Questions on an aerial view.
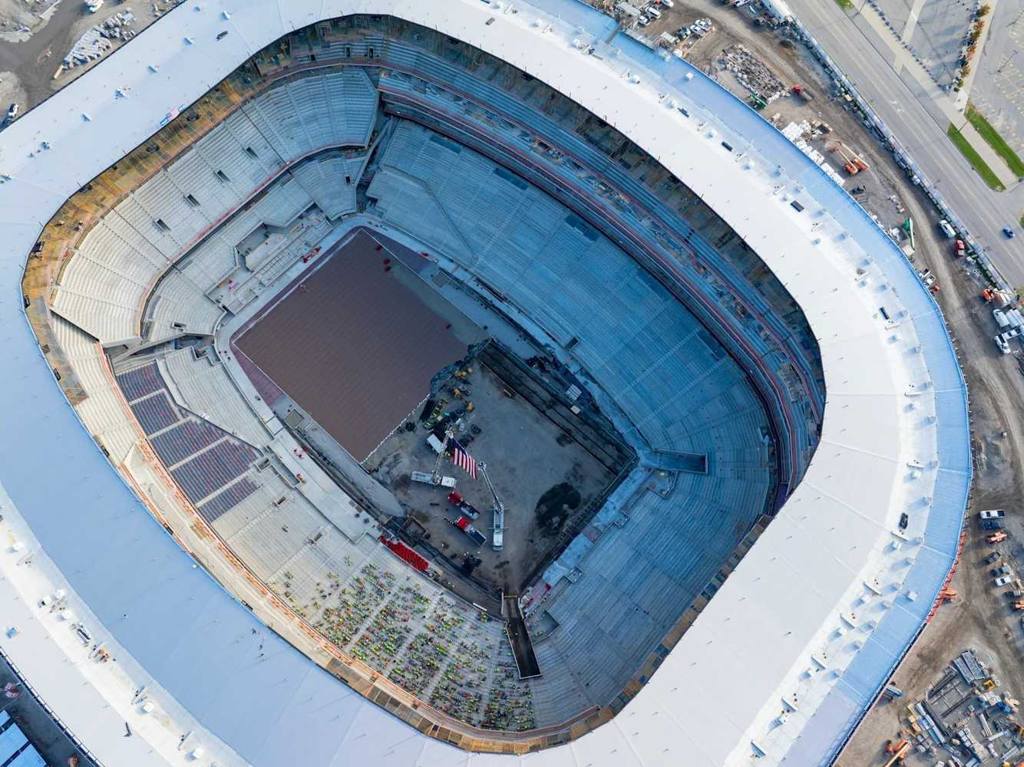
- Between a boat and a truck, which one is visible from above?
truck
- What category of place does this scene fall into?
sports ground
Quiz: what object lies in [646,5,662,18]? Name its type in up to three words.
vehicle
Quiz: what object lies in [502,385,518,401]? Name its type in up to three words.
work vehicle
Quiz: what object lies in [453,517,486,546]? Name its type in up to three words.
truck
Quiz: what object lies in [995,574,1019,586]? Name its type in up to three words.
vehicle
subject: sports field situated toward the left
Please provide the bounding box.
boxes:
[228,222,490,461]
